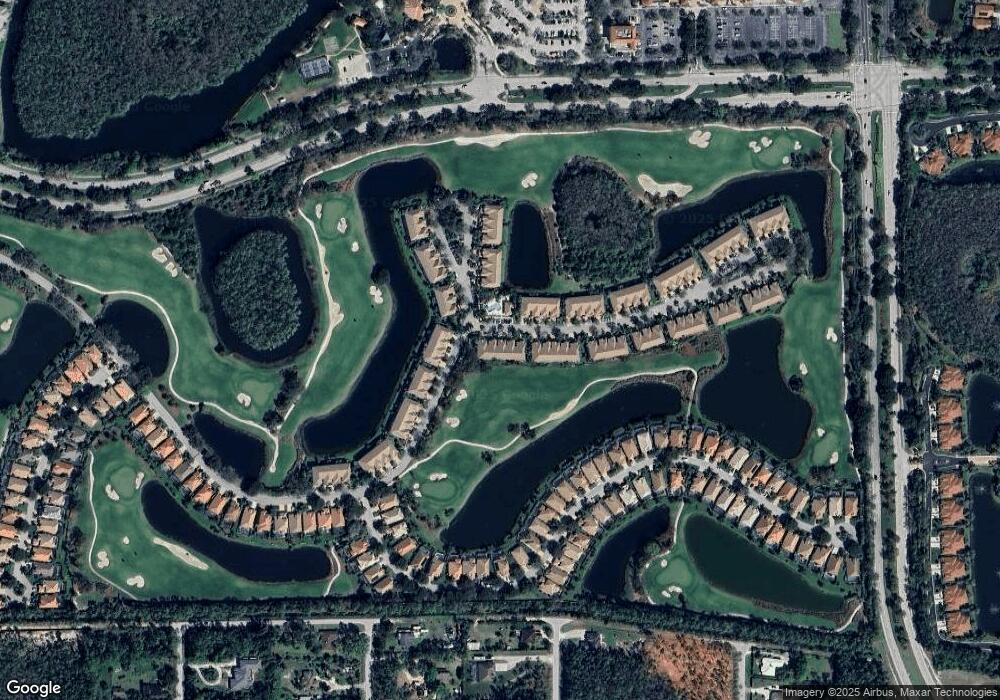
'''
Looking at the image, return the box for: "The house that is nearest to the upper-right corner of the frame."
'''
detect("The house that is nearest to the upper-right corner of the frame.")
[974,1,994,29]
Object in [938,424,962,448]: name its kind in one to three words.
house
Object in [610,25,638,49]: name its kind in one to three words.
building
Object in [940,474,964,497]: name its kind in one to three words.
house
